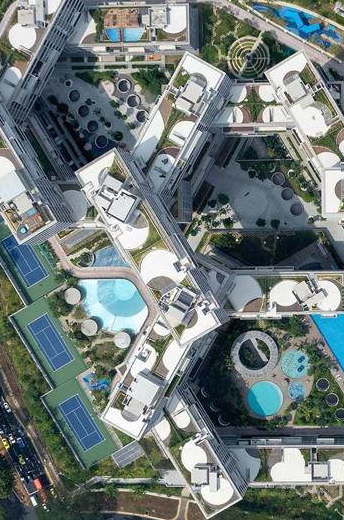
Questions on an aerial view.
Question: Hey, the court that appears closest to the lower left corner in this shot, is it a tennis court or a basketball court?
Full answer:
The court that appears closest to the lower left corner can be classified as a tennis court.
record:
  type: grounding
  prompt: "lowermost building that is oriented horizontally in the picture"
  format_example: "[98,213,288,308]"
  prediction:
[218,435,344,485]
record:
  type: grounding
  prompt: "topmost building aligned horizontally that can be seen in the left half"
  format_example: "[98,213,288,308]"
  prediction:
[54,4,196,62]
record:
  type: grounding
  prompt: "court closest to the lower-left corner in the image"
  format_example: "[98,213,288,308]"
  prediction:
[37,378,121,472]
